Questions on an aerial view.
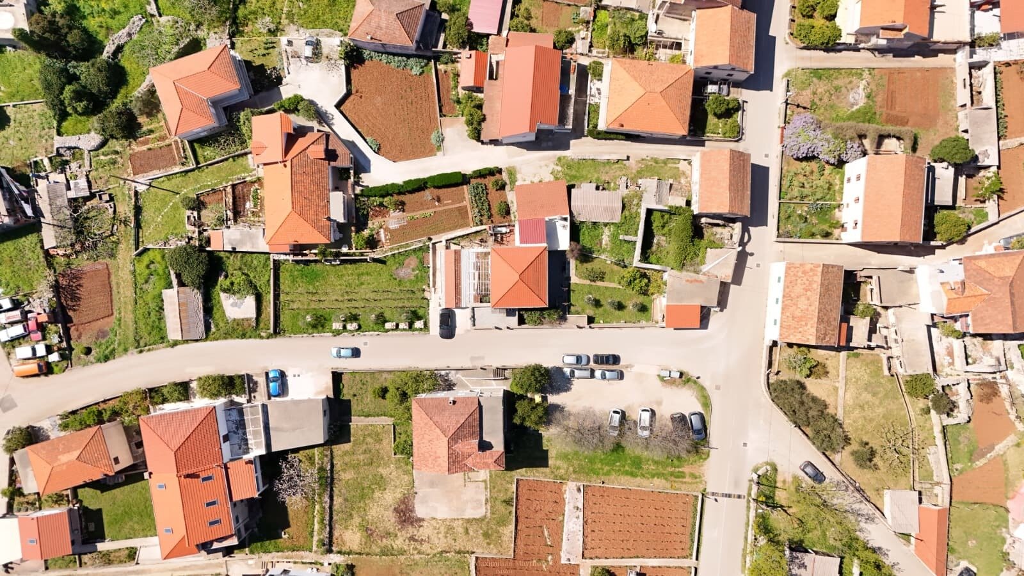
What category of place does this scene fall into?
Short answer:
residential area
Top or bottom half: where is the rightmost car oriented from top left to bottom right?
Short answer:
bottom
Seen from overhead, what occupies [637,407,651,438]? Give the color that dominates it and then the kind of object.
white car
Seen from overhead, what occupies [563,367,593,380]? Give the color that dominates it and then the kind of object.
white vehicle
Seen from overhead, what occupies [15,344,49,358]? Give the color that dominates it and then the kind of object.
white car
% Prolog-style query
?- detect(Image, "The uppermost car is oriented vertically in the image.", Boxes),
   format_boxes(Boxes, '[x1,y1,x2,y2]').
[303,35,316,62]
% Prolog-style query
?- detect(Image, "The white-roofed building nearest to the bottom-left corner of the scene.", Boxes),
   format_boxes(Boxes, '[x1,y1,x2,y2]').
[0,508,31,565]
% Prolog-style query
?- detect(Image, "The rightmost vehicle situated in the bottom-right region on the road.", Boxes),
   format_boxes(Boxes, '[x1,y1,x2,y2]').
[798,459,826,485]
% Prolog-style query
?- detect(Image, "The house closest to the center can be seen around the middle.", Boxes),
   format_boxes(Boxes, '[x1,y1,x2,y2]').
[490,245,548,309]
